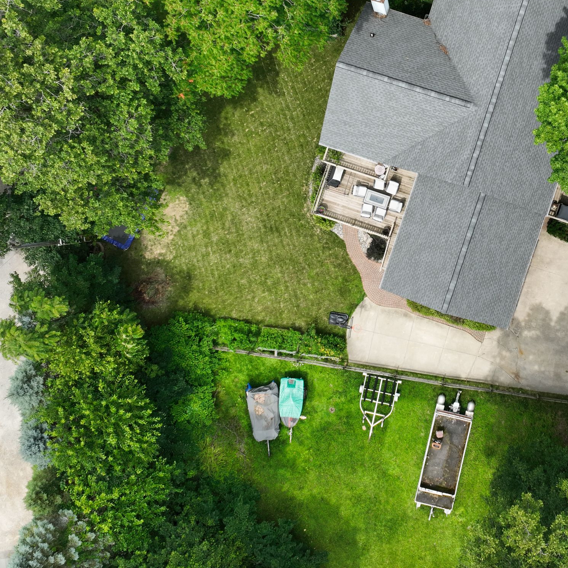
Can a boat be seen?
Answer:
Yes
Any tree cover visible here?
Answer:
Yes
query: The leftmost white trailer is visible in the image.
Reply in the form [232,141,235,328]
[358,374,401,441]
